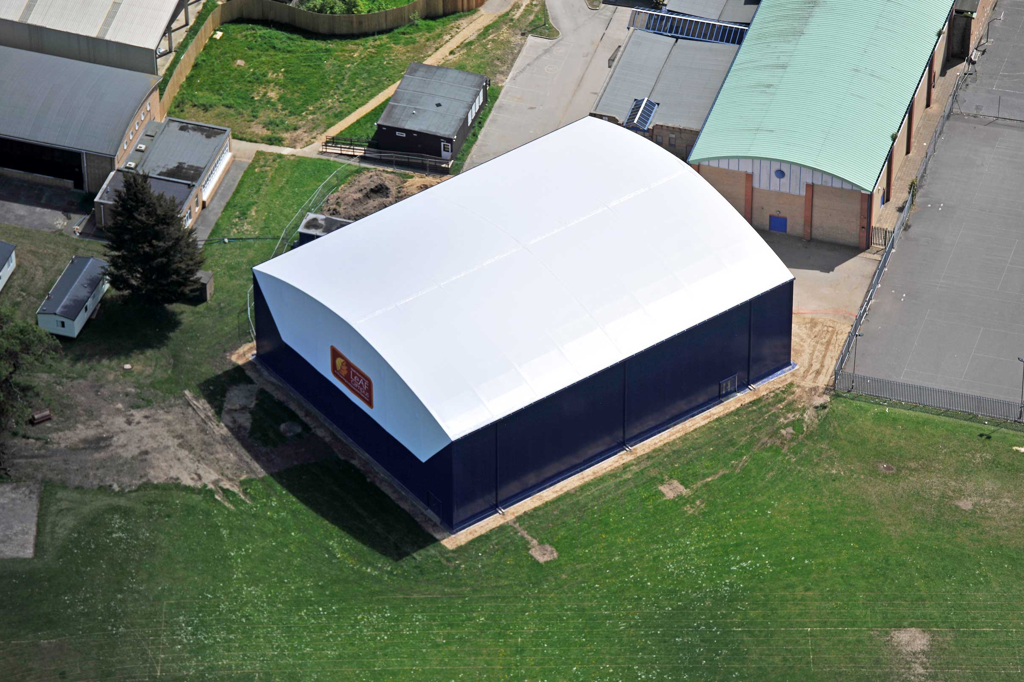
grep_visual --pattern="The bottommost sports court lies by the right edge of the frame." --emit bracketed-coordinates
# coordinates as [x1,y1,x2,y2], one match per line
[835,109,1024,422]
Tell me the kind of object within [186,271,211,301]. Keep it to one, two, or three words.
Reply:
shed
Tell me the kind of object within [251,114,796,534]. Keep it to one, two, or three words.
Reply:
building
